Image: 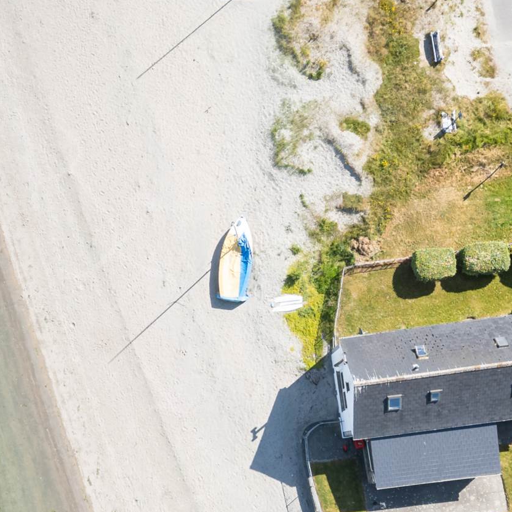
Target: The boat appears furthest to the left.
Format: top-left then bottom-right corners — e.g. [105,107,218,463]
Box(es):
[217,216,251,302]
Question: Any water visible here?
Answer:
No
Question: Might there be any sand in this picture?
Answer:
Yes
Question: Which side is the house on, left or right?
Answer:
right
